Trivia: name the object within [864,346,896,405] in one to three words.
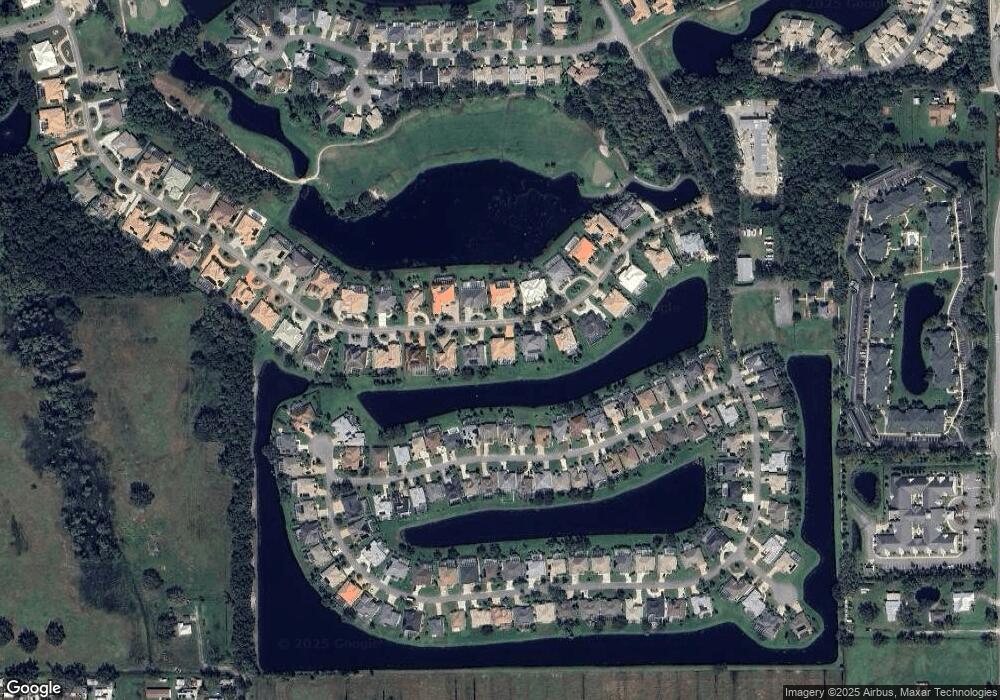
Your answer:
building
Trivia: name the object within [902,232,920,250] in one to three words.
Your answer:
swimming pool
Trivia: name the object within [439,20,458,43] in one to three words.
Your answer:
house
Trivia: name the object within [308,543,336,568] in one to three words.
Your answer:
house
